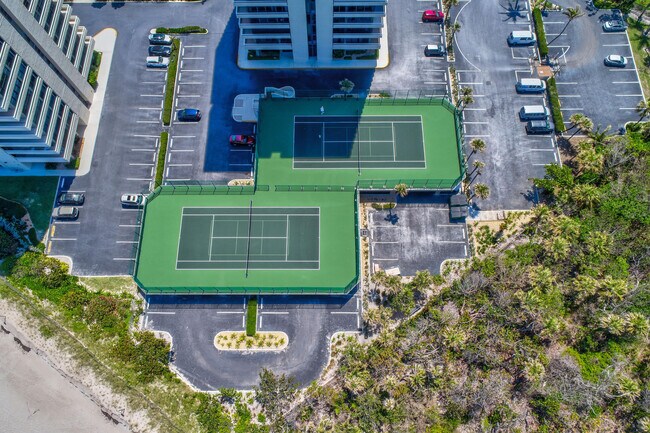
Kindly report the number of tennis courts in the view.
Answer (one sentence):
Looking from above, you can make out 2 tennis courts.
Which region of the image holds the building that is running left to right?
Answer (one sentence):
The building that is running left to right is located in the top region of the scene.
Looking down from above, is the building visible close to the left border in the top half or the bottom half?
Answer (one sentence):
You can find the building visible close to the left border in the top half.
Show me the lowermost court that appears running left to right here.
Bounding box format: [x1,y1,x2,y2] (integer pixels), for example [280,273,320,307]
[133,187,359,293]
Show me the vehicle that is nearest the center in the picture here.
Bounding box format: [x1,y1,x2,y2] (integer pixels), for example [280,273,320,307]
[229,135,253,147]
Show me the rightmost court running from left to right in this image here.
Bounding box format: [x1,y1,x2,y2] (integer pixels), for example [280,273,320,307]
[252,98,465,189]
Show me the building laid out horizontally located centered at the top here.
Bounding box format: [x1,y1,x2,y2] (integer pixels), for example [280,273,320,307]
[233,0,387,63]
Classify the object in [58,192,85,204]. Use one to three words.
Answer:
vehicle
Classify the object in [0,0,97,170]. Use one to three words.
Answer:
building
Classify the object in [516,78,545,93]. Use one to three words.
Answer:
vehicle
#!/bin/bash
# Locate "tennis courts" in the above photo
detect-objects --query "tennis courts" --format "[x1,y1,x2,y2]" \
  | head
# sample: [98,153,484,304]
[133,187,359,293]
[252,98,465,189]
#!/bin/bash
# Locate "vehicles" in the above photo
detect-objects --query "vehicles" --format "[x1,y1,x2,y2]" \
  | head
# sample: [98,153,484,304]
[143,54,169,67]
[422,43,444,55]
[147,32,171,44]
[516,78,545,93]
[58,192,85,204]
[146,43,171,55]
[521,105,550,120]
[607,55,631,67]
[118,193,147,206]
[53,205,81,218]
[508,30,536,44]
[419,8,441,20]
[526,121,554,134]
[601,20,627,31]
[229,135,253,147]
[175,109,199,120]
